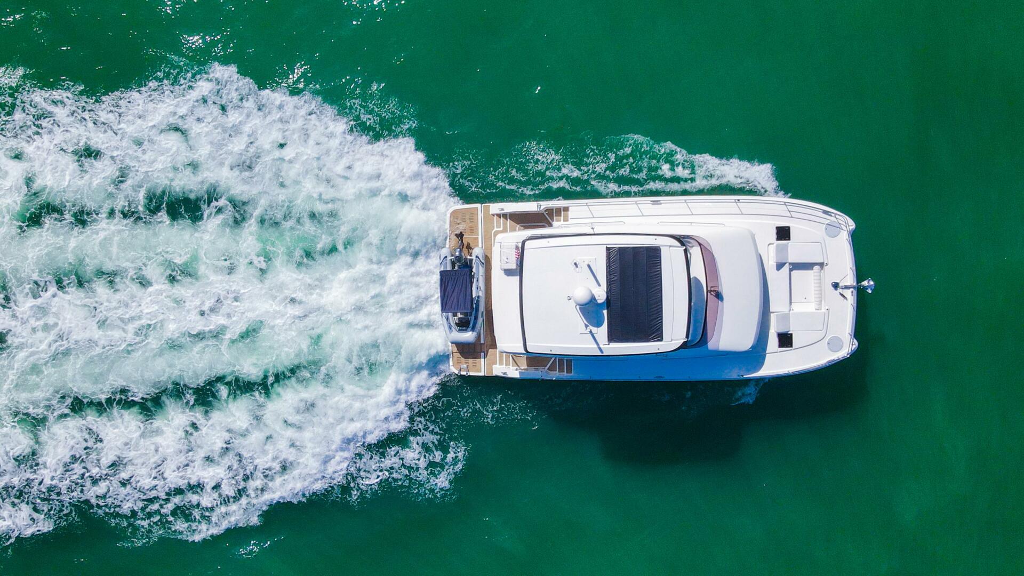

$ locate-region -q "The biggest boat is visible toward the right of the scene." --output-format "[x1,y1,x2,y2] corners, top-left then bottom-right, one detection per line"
[447,196,859,383]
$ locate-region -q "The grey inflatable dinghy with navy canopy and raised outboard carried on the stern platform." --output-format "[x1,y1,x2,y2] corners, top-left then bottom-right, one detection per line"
[440,231,484,344]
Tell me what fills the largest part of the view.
water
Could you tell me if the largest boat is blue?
No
